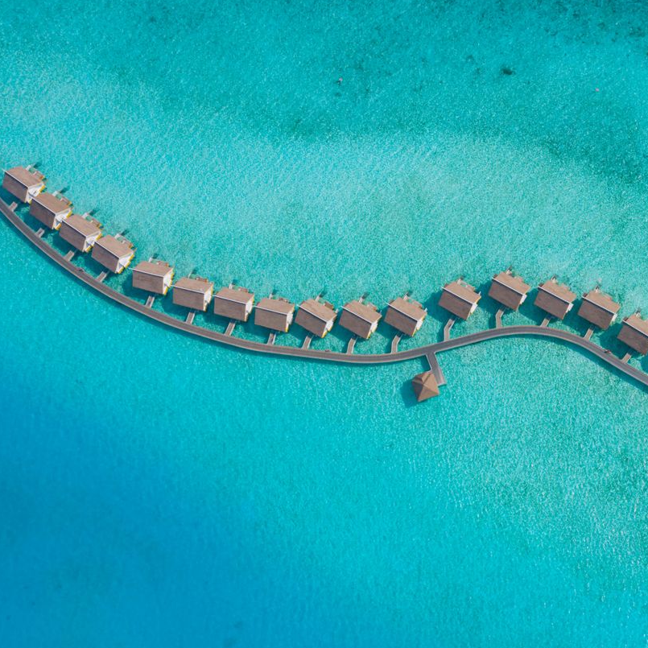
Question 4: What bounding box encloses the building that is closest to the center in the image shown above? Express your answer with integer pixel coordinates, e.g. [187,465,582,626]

[295,294,339,339]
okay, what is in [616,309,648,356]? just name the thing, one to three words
house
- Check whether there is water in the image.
Yes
